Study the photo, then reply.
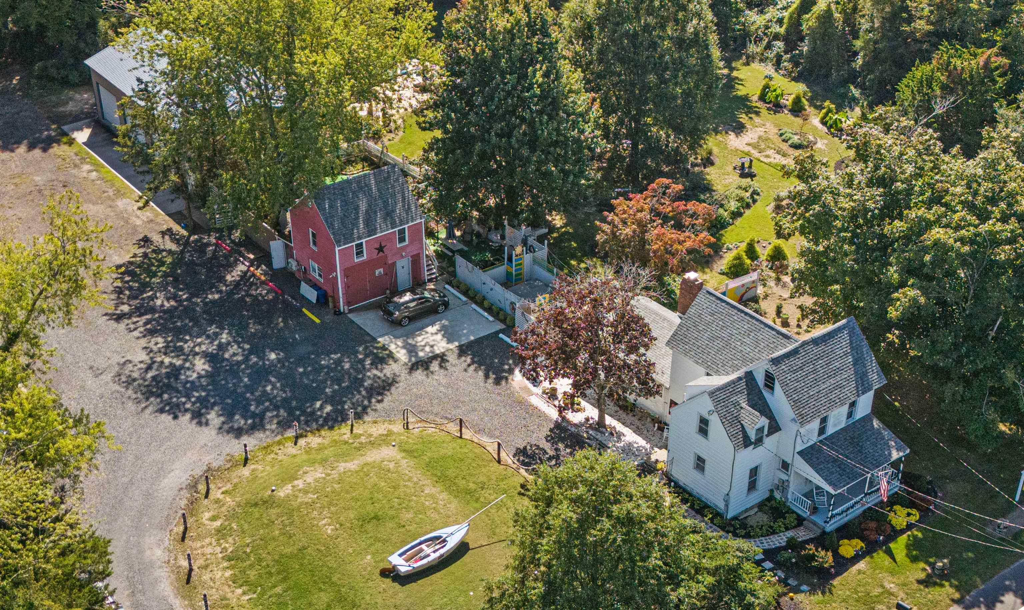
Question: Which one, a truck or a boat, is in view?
boat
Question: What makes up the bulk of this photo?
trees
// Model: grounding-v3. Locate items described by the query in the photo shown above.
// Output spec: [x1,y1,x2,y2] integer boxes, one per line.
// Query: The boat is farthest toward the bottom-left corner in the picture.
[377,494,501,576]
